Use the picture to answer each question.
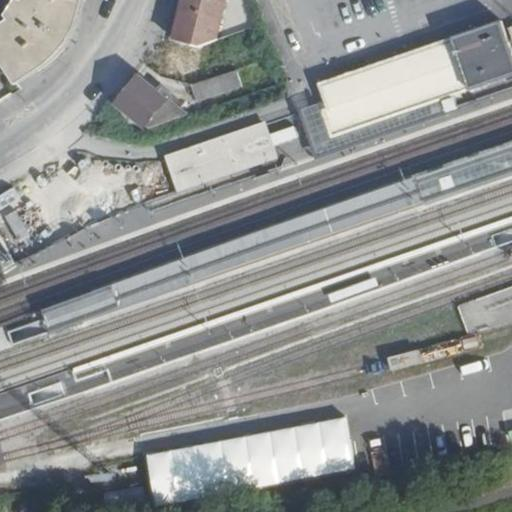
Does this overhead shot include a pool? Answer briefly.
No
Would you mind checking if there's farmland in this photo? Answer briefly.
No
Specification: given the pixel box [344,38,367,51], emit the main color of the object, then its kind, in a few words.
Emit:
white vehicle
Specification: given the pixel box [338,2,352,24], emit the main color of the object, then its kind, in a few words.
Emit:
white car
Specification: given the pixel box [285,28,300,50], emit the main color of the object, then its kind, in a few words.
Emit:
white car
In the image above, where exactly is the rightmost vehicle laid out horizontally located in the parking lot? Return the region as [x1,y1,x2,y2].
[460,360,490,376]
